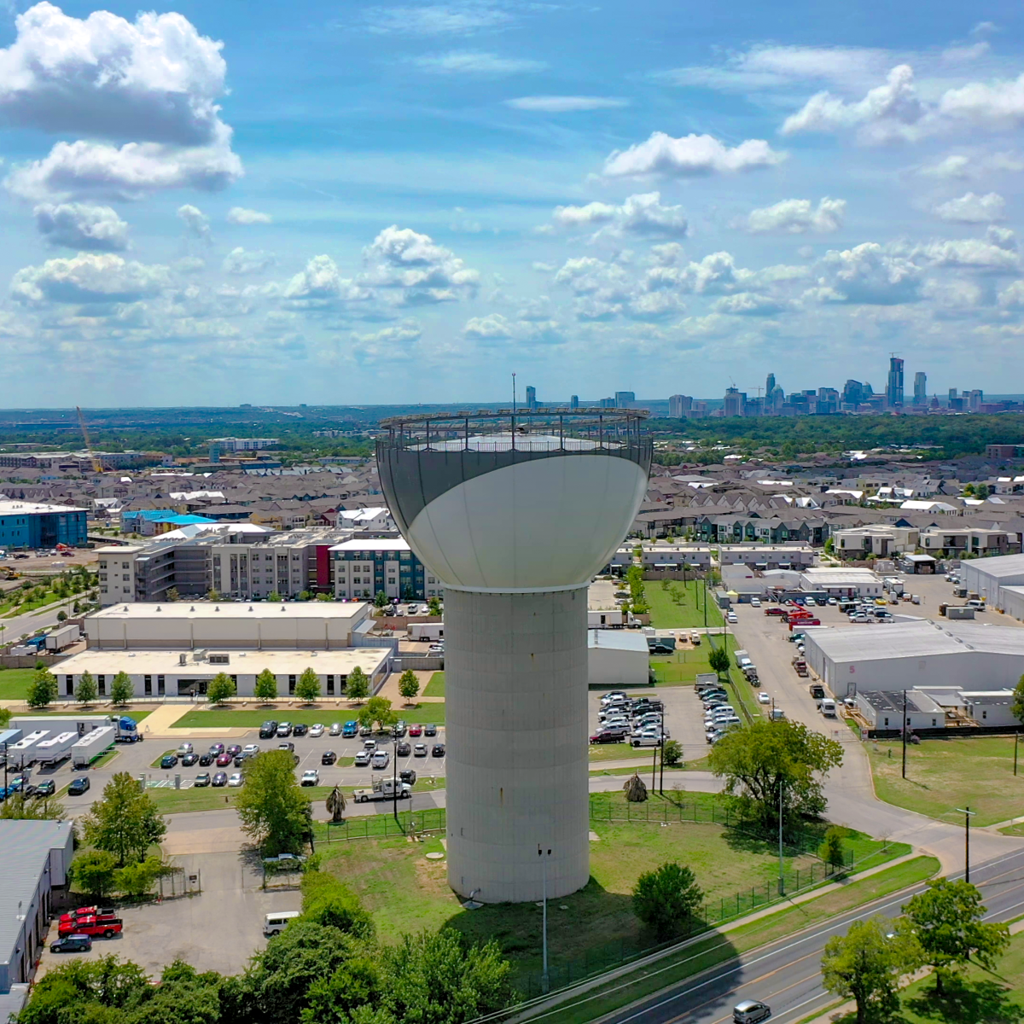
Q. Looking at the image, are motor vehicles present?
Yes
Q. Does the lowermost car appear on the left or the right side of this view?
right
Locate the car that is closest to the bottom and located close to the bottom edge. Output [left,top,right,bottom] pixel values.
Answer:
[728,994,775,1022]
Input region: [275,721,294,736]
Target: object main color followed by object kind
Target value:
gray vehicle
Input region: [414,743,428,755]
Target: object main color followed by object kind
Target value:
gray vehicle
